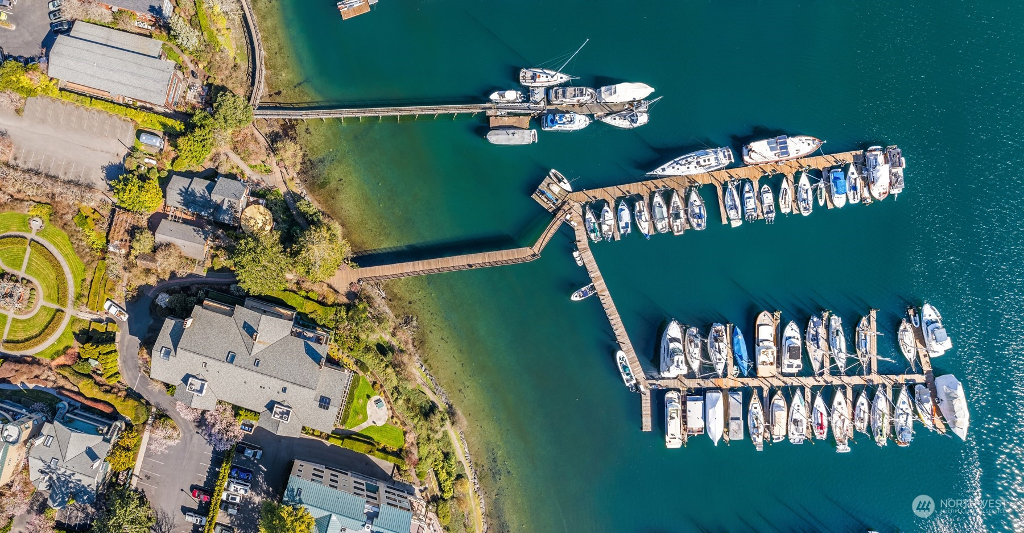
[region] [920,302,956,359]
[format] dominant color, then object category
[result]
white boat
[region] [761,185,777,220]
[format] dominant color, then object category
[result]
white boat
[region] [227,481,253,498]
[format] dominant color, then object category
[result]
white vehicle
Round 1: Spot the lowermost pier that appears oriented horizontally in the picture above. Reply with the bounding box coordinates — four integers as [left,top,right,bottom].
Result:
[647,374,926,388]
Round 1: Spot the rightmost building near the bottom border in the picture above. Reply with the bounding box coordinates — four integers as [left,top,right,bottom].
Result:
[280,456,430,533]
